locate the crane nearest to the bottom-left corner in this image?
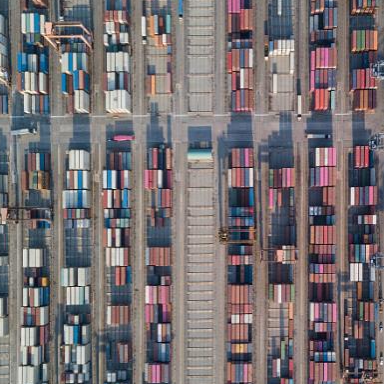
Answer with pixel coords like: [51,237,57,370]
[0,205,53,224]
